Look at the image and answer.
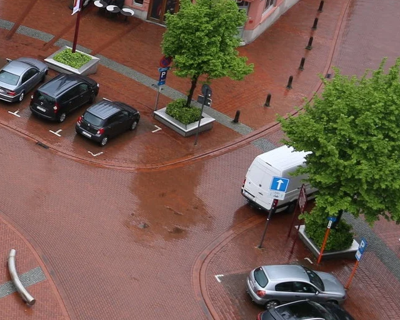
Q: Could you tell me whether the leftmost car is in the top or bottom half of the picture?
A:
top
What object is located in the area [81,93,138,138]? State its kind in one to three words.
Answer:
car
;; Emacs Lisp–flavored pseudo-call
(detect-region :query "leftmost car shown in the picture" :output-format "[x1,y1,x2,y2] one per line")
[0,48,51,95]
